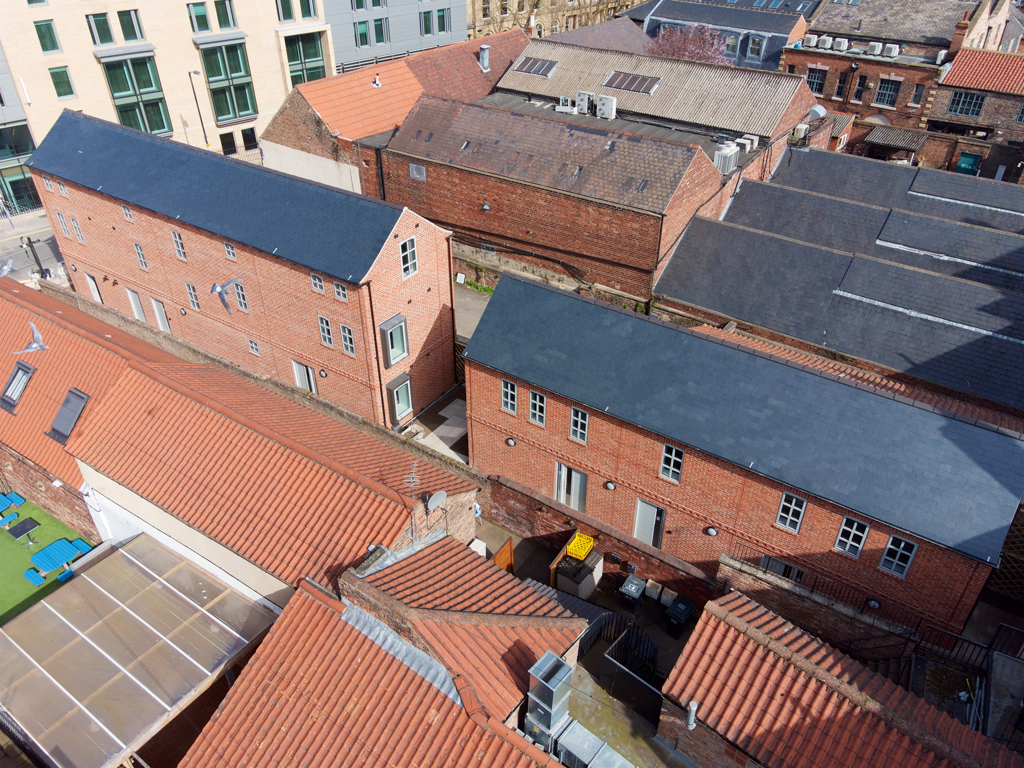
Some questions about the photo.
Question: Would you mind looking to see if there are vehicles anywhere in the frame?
No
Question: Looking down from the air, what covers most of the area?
buildings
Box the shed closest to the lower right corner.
[657,589,1024,768]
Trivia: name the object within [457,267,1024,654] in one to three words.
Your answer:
house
